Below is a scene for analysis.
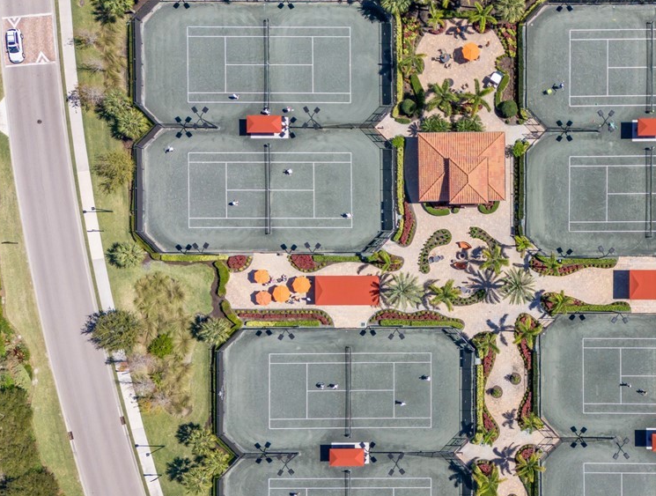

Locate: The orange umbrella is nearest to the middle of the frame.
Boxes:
[293,275,311,294]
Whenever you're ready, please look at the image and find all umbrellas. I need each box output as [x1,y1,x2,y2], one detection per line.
[273,285,291,303]
[254,268,271,284]
[293,275,311,294]
[255,290,273,306]
[463,45,479,61]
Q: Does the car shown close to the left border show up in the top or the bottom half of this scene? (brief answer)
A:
top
